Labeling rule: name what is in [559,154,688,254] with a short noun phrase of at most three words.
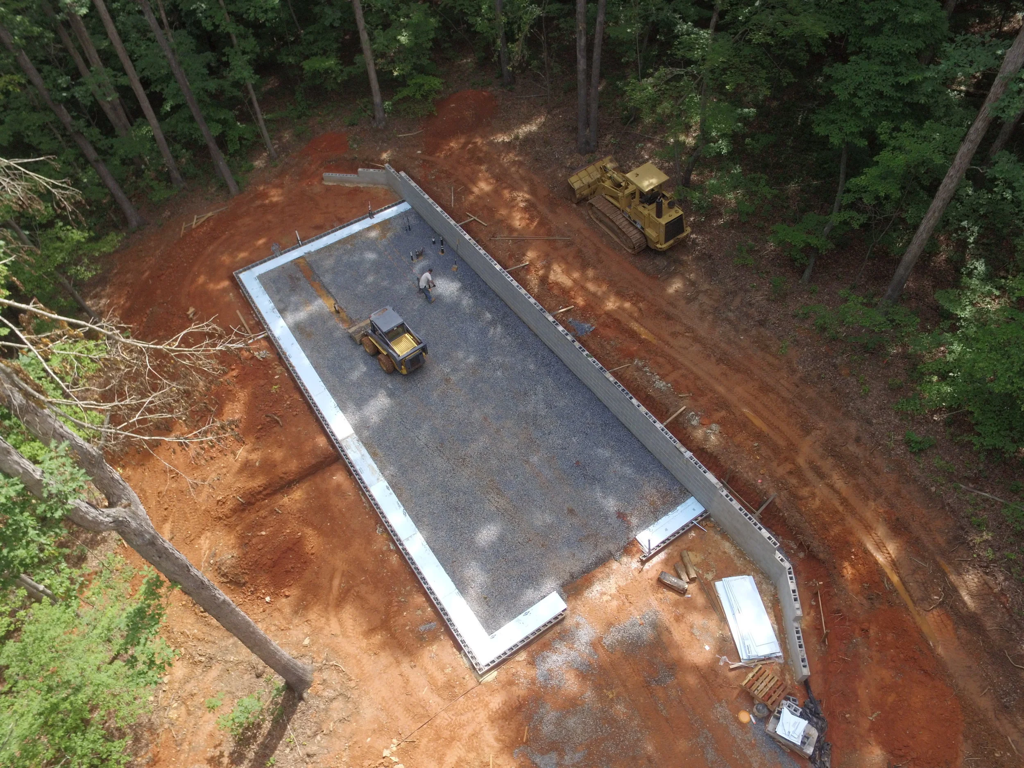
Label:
work vehicle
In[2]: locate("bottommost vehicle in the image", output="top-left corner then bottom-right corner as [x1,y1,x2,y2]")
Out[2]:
[346,306,423,377]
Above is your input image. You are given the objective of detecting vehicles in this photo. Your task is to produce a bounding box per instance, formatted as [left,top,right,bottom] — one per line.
[559,154,688,254]
[346,306,423,377]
